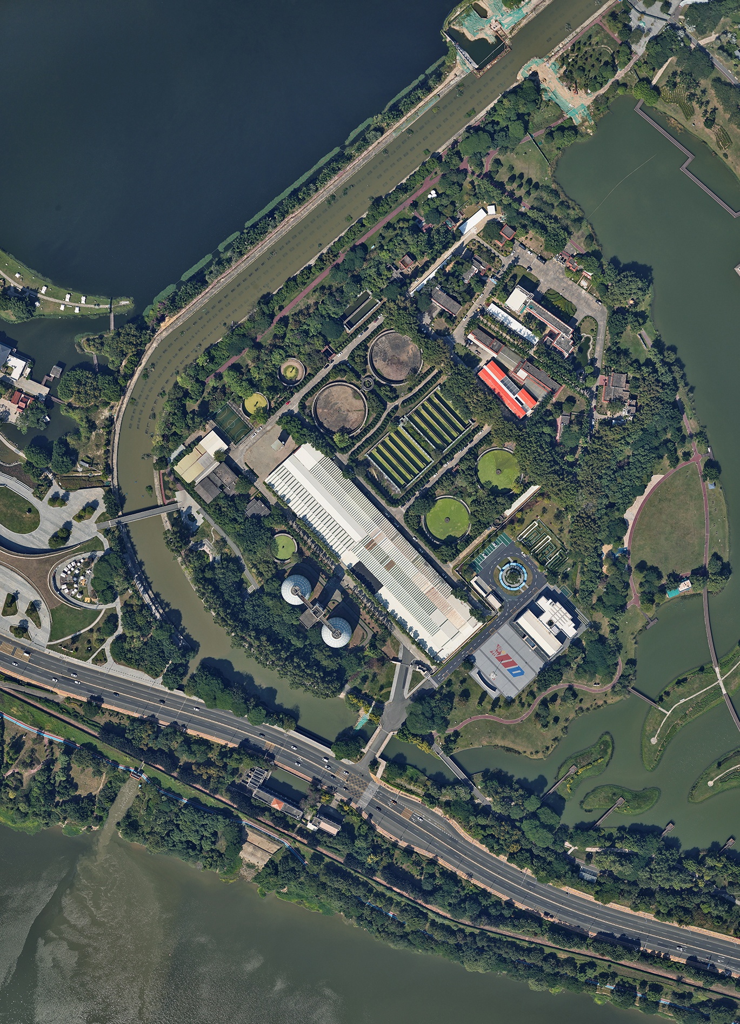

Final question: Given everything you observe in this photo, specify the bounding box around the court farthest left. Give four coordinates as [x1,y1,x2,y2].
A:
[210,402,253,448]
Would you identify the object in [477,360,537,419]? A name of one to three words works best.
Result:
building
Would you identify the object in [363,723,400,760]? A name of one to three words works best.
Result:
bridge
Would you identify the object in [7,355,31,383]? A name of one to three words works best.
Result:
house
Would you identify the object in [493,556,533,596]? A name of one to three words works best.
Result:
roundabout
